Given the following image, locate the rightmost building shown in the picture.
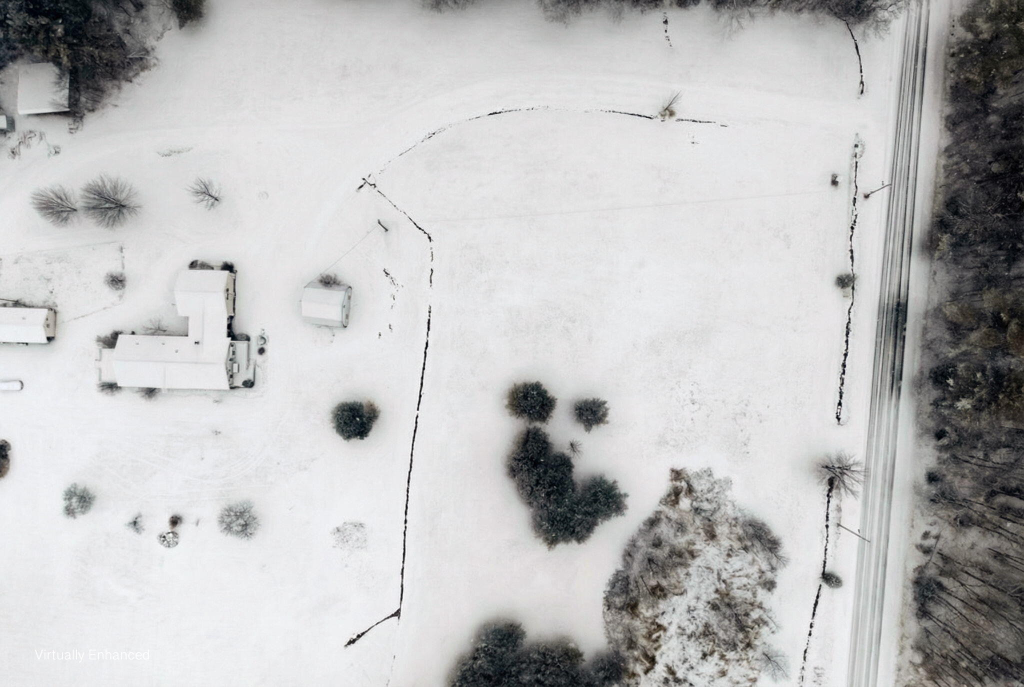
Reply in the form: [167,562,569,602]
[300,282,350,328]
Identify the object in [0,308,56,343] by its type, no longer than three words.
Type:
house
